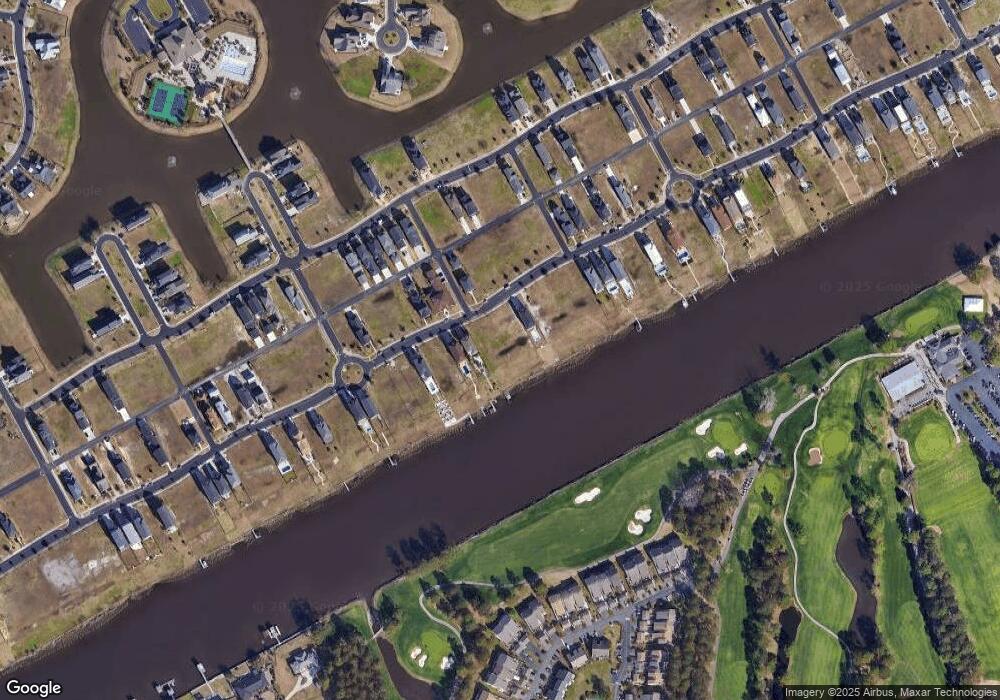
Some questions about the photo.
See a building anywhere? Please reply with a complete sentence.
Yes, there is a building in the image.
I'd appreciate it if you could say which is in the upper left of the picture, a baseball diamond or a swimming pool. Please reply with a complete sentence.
The feature located in the upper left of the picture is a swimming pool.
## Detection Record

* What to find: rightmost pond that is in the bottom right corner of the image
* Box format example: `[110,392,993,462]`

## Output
[836,513,878,650]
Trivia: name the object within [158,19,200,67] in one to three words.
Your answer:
building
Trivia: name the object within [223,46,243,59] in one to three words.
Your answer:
swimming pool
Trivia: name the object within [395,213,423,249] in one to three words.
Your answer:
house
